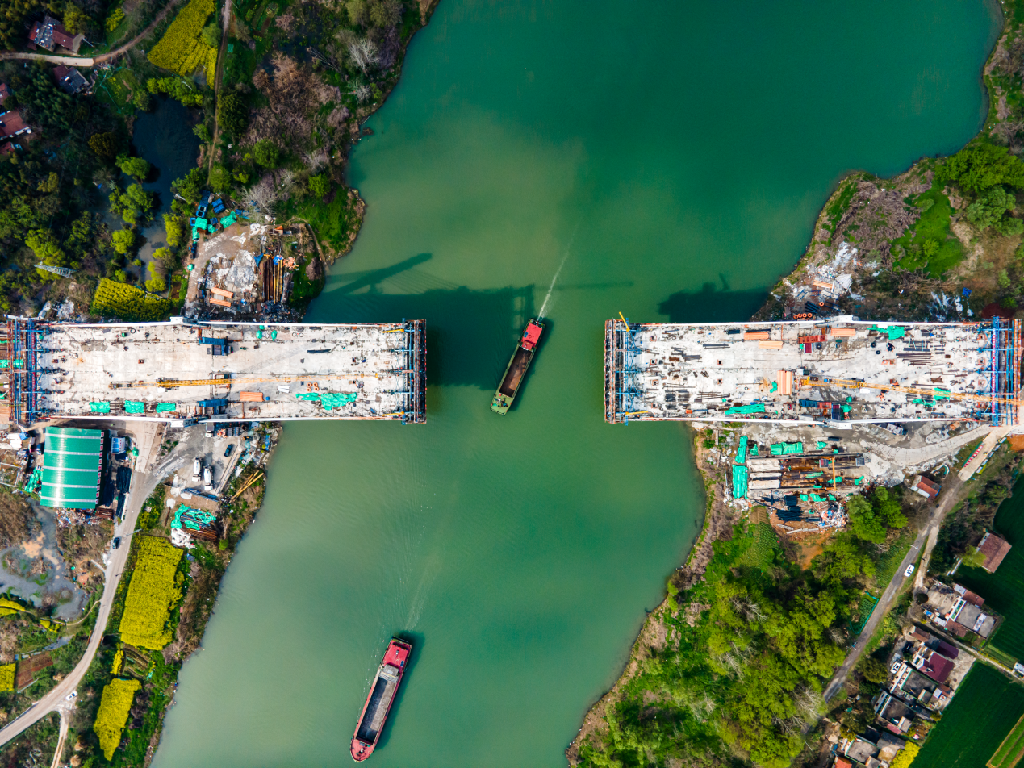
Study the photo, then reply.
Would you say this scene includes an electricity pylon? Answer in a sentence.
Yes, an electricity pylon appears in the view.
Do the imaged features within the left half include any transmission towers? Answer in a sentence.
Yes, a transmission tower is visible within the left half.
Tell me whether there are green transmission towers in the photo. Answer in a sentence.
No, there appears to be no green transmission tower in this shot.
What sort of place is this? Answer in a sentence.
The area seen from above is a port.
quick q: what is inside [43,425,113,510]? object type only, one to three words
shed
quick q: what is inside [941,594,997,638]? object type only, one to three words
house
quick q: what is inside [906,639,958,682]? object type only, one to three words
house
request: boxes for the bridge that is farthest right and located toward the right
[620,319,997,424]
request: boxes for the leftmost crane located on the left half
[104,370,378,391]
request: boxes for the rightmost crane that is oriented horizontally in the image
[791,371,1024,399]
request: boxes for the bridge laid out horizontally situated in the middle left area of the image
[31,319,410,431]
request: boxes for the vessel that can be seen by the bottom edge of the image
[351,637,411,765]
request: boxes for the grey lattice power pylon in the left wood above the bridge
[30,258,79,283]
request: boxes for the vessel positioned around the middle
[491,319,544,415]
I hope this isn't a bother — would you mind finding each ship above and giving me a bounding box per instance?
[491,319,544,415]
[351,637,411,765]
